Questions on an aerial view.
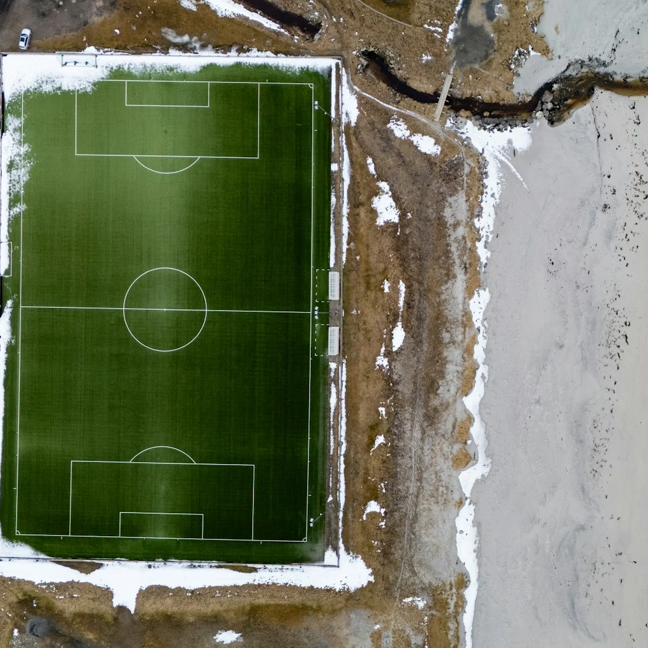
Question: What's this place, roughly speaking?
sports ground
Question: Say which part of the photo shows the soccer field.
left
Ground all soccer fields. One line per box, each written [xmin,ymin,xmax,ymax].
[0,55,332,565]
